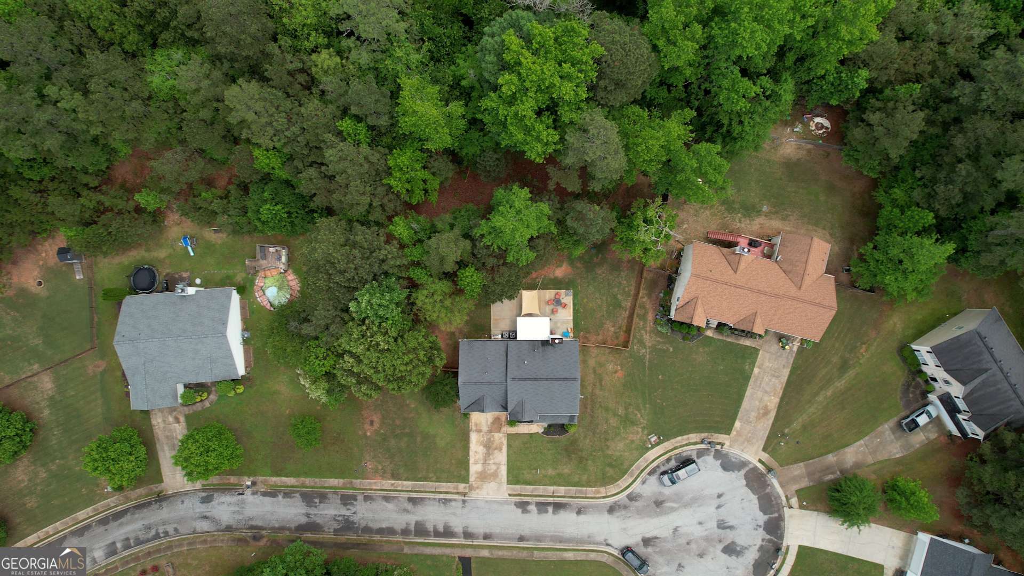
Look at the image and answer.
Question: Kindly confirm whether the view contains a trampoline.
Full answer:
Yes, the image includes a trampoline.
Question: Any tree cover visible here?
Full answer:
Yes, there's tree cover in this view.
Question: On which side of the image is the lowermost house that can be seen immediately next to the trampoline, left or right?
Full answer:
The lowermost house that can be seen immediately next to the trampoline is on the left side of the image.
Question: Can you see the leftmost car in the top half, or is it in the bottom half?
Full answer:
You can find the leftmost car in the bottom half.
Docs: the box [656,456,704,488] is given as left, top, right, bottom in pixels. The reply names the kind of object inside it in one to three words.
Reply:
truck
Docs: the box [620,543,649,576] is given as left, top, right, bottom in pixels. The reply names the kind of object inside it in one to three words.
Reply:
car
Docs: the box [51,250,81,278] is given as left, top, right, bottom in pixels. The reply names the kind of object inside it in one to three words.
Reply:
shed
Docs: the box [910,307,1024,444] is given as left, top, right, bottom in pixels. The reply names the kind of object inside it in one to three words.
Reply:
house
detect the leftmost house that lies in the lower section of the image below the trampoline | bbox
[117,286,245,409]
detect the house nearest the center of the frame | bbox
[458,316,583,424]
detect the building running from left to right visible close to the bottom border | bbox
[904,533,1004,576]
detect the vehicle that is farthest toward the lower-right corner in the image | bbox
[895,400,941,436]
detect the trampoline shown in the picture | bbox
[125,264,161,295]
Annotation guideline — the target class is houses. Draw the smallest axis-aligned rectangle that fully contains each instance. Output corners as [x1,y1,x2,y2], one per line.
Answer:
[904,533,1004,576]
[671,232,837,344]
[458,316,583,424]
[117,286,245,409]
[910,307,1024,444]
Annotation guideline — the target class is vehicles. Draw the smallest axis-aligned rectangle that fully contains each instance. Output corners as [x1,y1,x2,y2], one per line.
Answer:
[656,456,704,488]
[620,543,649,576]
[895,400,941,436]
